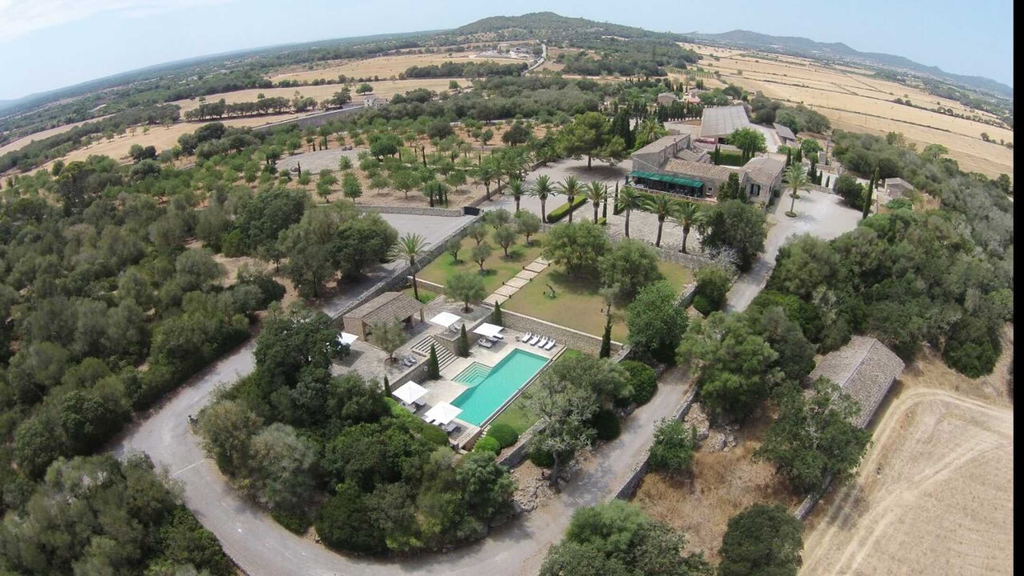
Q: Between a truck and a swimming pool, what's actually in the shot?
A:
swimming pool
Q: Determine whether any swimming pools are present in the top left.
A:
No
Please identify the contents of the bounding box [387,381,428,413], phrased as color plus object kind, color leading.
white umbrella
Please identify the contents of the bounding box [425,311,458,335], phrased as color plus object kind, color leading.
white umbrella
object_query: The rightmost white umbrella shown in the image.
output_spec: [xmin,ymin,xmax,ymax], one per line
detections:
[468,321,500,347]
